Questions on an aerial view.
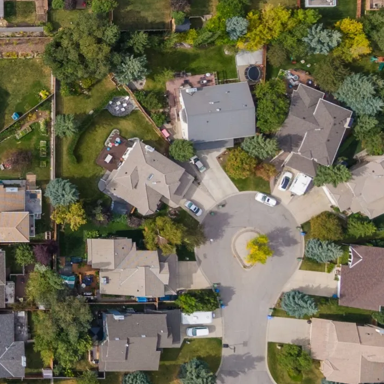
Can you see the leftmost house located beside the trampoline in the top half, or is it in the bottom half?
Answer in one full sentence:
You can find the leftmost house located beside the trampoline in the top half.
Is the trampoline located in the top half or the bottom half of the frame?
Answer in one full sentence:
Seen from above, the trampoline lies in the top half of the view.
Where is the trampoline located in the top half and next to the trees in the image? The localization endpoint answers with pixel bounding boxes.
[242,62,264,82]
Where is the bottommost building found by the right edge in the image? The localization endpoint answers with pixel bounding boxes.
[302,320,384,383]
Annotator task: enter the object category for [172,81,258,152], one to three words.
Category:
house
